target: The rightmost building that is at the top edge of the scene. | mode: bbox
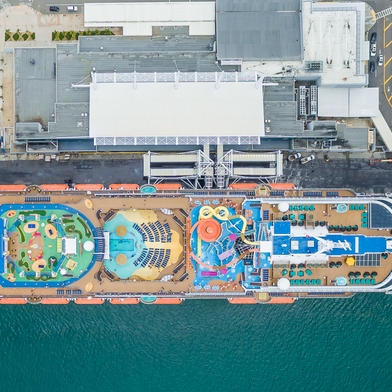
[265,1,369,86]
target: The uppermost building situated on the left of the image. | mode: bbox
[84,2,215,36]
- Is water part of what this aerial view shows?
Yes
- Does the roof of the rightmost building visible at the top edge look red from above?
No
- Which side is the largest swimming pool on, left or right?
left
